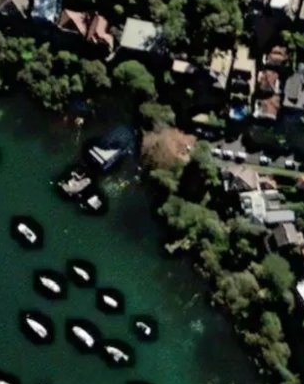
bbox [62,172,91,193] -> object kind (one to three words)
ship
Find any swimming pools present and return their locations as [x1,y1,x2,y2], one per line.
[228,106,248,119]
